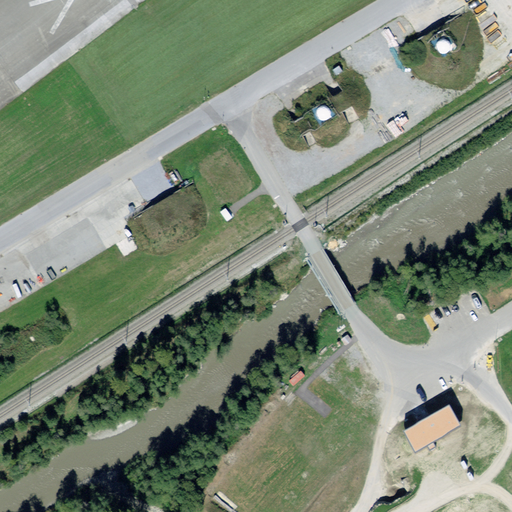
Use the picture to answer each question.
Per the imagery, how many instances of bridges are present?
1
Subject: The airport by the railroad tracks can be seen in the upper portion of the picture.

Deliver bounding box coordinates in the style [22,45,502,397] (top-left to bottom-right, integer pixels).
[0,0,428,312]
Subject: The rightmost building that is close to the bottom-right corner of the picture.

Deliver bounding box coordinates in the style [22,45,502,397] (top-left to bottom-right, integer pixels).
[405,406,461,451]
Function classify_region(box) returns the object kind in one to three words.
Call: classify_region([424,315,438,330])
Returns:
vehicle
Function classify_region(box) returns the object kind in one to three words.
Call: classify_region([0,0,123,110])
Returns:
runway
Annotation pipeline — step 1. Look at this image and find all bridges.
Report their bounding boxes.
[304,248,358,316]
